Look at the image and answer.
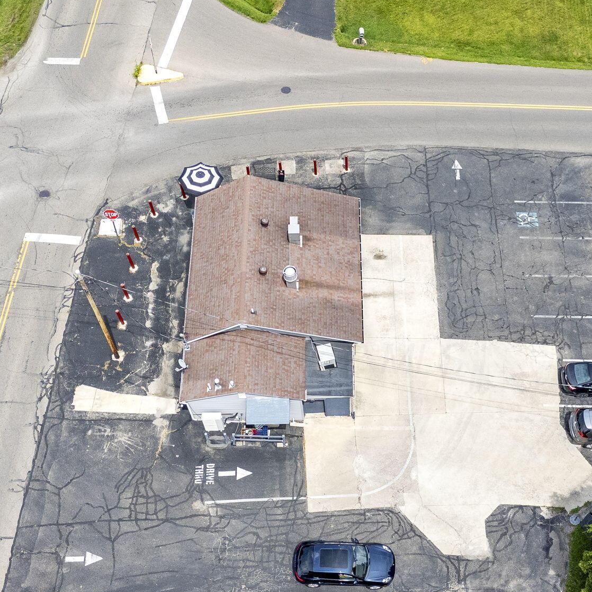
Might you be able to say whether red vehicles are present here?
No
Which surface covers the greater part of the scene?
paved ground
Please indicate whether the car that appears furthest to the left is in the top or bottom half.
bottom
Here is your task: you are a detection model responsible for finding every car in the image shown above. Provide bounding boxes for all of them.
[293,538,395,591]
[558,360,592,397]
[566,408,592,448]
